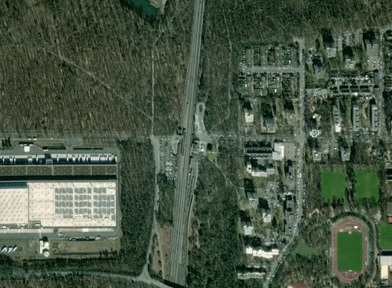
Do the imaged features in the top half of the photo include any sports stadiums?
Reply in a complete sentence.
No, no sports stadium appears in the top half of the photo.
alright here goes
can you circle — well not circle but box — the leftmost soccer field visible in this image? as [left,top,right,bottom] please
[321,169,346,202]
